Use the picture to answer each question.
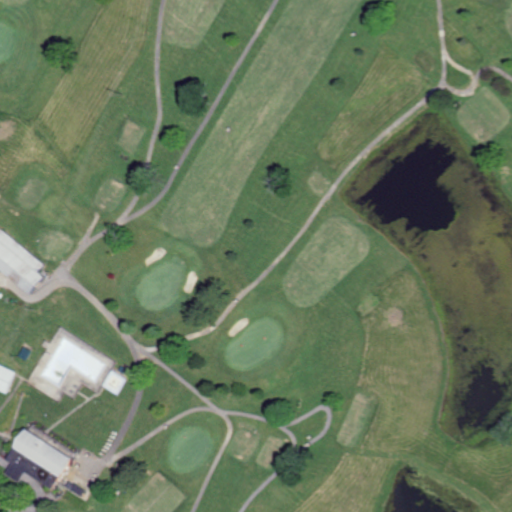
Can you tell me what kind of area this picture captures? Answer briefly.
golf course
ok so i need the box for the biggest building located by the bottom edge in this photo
[4,430,70,490]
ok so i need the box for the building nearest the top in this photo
[0,230,42,294]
